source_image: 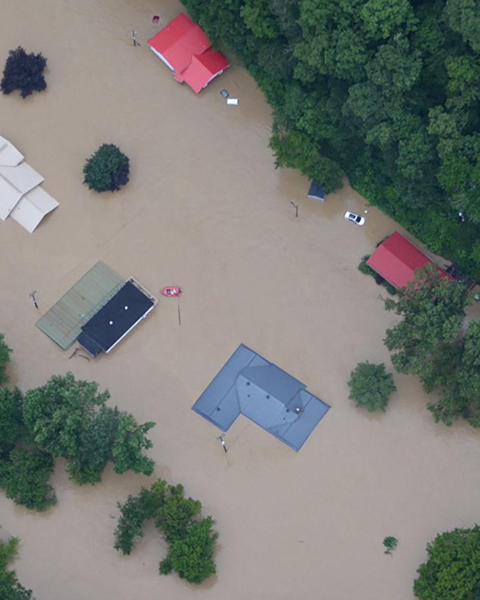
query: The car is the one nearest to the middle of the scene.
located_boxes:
[343,211,366,226]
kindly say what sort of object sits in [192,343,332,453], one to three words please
house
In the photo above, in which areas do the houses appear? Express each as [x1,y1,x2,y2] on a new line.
[147,13,230,94]
[0,136,59,234]
[366,232,450,300]
[192,343,332,453]
[36,261,158,357]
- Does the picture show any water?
Yes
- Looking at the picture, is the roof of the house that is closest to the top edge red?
Yes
